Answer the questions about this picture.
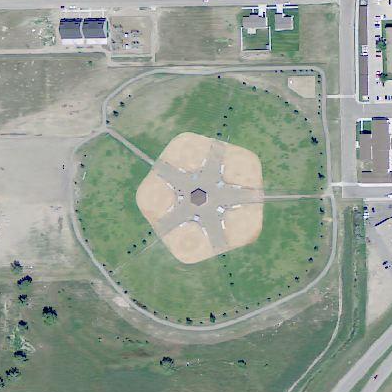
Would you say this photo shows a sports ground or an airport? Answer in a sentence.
It's a sports ground.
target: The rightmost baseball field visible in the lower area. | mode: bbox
[216,198,334,319]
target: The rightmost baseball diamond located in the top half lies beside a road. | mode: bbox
[215,69,329,195]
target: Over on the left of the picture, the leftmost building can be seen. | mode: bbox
[60,23,83,38]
